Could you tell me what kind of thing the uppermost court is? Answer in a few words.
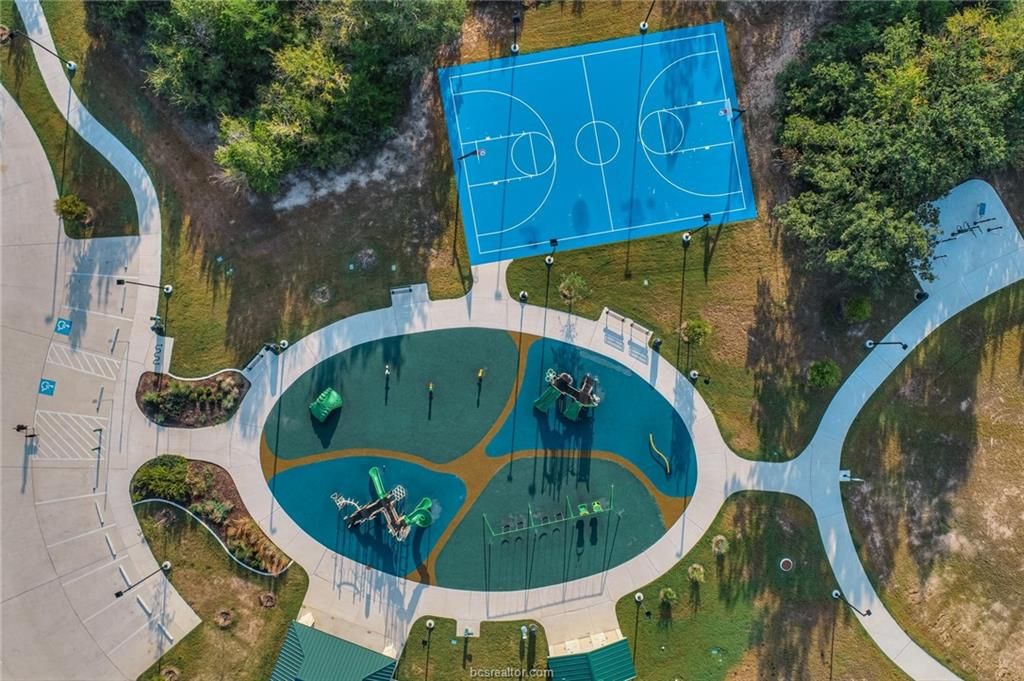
basketball court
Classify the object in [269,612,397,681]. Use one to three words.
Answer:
building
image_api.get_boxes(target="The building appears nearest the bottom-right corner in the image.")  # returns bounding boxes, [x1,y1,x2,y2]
[546,628,635,681]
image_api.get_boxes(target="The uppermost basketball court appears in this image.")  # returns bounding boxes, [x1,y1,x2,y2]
[439,22,756,263]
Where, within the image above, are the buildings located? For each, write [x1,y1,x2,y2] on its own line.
[269,612,397,681]
[546,628,635,681]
